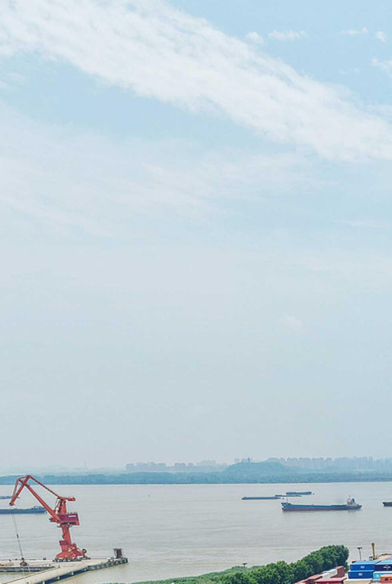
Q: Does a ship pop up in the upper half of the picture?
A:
No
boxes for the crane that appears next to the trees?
[6,469,84,562]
